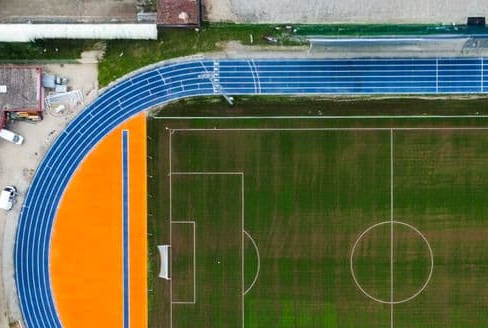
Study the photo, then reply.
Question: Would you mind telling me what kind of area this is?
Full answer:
What you see here is a sports ground.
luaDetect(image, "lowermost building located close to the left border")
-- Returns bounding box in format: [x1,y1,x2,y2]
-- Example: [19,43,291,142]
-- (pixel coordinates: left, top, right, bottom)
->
[0,66,43,127]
